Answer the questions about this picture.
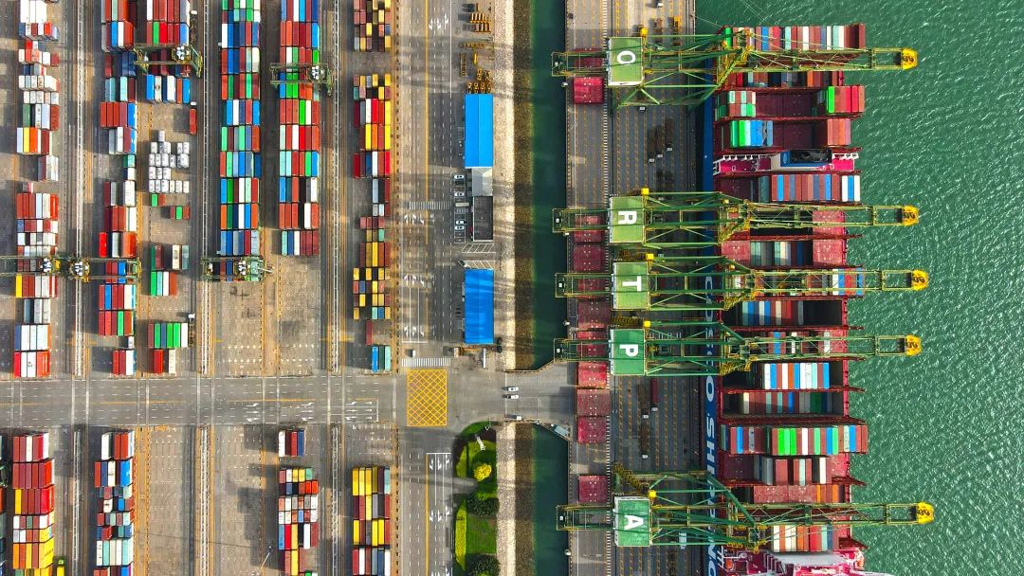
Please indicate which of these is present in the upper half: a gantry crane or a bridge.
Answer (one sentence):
Looking in the upper half, you will find a gantry crane.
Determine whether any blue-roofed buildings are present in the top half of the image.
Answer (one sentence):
Yes, a blue-roofed building shows up in the top half of the image.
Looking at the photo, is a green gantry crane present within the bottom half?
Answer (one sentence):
Yes, a green gantry crane can be seen within the bottom half.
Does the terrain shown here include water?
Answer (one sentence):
Yes, there is water in the image.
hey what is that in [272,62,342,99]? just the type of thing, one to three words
crane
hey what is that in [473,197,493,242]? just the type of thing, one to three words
building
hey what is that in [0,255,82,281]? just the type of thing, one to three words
crane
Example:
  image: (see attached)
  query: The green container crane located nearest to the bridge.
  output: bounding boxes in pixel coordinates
[553,315,921,378]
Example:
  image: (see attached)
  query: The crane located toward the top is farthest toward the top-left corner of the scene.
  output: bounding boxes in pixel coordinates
[136,44,216,81]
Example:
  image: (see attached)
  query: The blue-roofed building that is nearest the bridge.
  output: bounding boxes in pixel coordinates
[465,269,494,344]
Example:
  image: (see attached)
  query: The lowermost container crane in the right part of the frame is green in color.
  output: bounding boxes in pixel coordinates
[557,463,934,549]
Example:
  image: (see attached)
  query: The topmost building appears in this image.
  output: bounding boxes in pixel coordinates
[465,93,493,169]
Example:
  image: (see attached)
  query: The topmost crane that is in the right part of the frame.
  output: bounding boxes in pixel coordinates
[551,31,918,117]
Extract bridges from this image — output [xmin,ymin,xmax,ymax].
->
[494,362,572,447]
